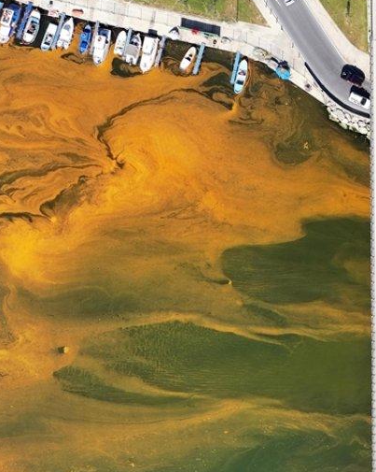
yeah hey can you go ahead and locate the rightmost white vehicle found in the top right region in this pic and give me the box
[346,89,370,109]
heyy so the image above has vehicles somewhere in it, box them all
[346,89,370,109]
[341,65,365,84]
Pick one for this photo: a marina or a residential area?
marina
